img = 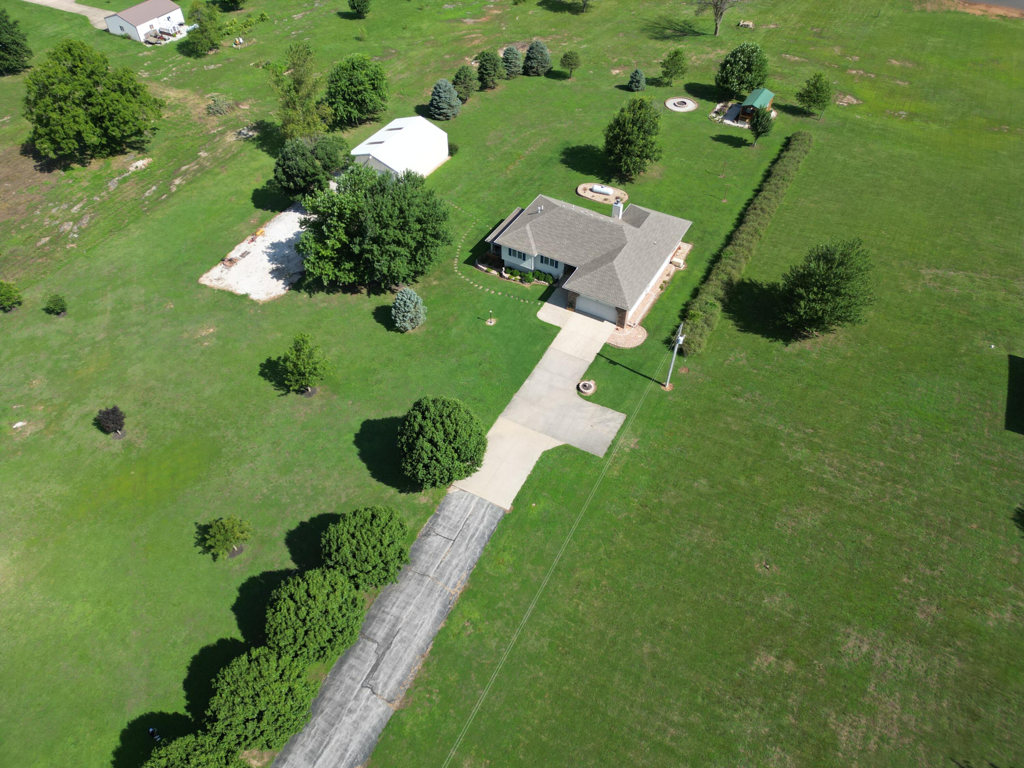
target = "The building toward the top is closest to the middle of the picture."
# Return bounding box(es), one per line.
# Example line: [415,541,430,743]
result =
[484,193,691,328]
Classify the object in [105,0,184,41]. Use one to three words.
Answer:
shed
